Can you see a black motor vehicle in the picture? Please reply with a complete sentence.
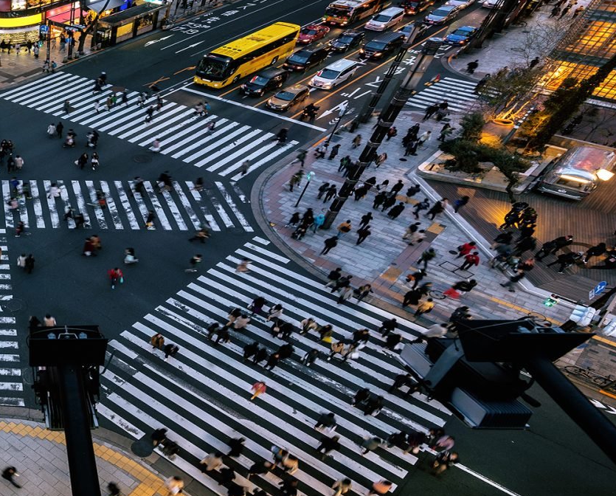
Yes, the image includes a black motor vehicle.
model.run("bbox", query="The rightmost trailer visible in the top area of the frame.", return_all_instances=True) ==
[534,146,615,204]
